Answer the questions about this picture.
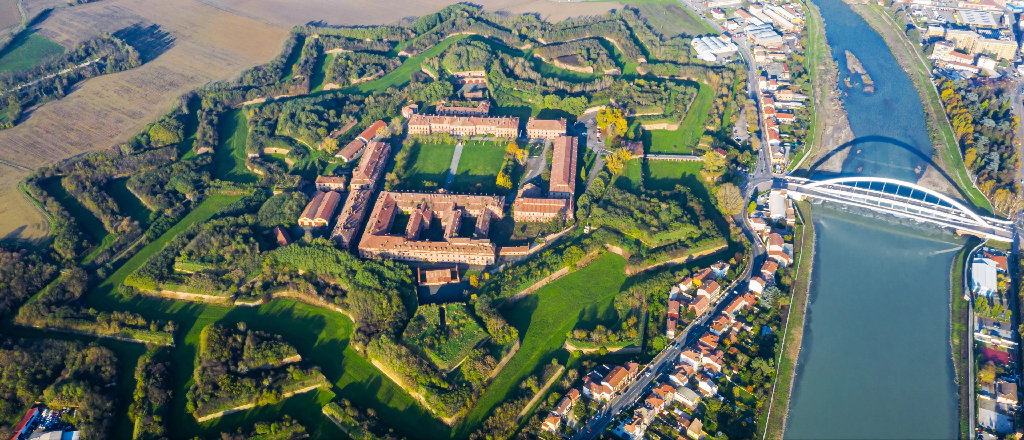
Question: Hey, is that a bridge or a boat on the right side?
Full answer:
The one visible on the right side is a bridge.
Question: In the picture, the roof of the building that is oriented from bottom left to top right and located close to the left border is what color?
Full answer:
From above, the roof of the building that is oriented from bottom left to top right and located close to the left border looks red.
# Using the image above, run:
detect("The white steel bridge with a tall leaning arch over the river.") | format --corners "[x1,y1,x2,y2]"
[772,171,1013,242]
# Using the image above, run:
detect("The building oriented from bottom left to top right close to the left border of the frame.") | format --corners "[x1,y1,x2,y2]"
[11,406,40,440]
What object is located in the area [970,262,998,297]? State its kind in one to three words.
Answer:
building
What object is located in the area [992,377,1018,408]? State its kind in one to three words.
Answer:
house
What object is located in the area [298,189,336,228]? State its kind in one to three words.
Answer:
shed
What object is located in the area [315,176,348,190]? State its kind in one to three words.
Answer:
house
